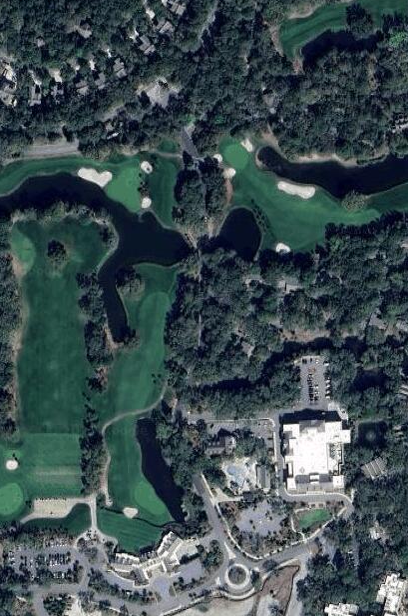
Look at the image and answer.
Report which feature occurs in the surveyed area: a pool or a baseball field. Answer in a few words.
pool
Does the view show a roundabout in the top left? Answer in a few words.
No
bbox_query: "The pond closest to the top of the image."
[302,28,382,74]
